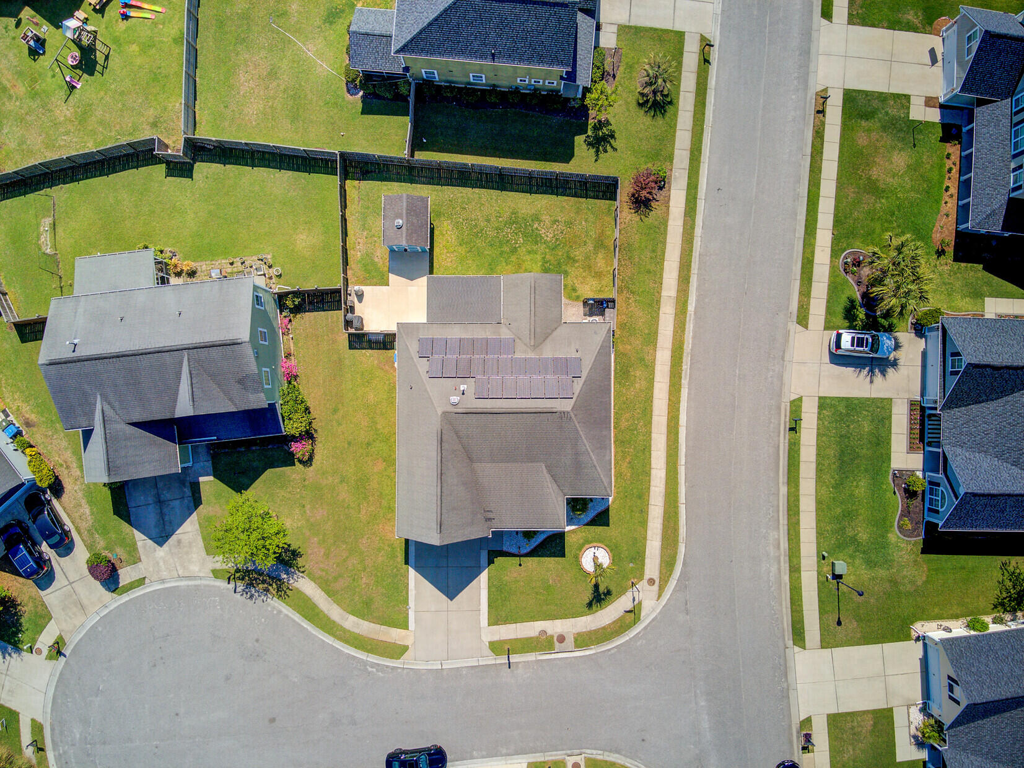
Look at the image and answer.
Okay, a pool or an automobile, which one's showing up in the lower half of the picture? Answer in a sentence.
You can see an automobile in the lower half of the picture.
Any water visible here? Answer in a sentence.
No, water can't be seen anywhere here.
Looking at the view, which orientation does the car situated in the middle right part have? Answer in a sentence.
Seen from above, the car situated in the middle right part lies from left to right.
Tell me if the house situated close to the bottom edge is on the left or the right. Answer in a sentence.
The house situated close to the bottom edge appears in the right half of the scene.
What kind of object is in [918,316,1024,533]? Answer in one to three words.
house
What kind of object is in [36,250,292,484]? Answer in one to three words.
house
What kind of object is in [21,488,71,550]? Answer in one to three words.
car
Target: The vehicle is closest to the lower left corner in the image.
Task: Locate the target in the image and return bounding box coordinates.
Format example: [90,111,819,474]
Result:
[0,519,49,581]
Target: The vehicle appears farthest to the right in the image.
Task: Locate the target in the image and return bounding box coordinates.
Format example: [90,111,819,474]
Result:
[828,329,892,359]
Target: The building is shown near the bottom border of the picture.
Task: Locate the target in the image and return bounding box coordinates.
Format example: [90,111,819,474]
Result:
[912,620,1024,768]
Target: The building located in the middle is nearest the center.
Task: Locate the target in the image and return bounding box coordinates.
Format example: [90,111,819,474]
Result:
[396,272,613,546]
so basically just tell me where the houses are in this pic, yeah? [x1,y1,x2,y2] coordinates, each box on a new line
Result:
[912,620,1024,768]
[36,250,292,484]
[396,272,613,546]
[918,316,1024,533]
[0,417,43,510]
[936,5,1024,235]
[350,0,599,99]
